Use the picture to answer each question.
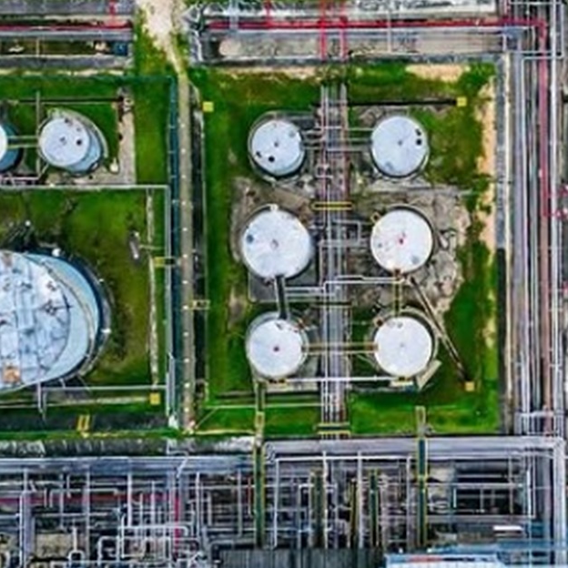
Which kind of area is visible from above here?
industrial area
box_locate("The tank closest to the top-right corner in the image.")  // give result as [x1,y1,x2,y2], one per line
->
[362,115,429,186]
